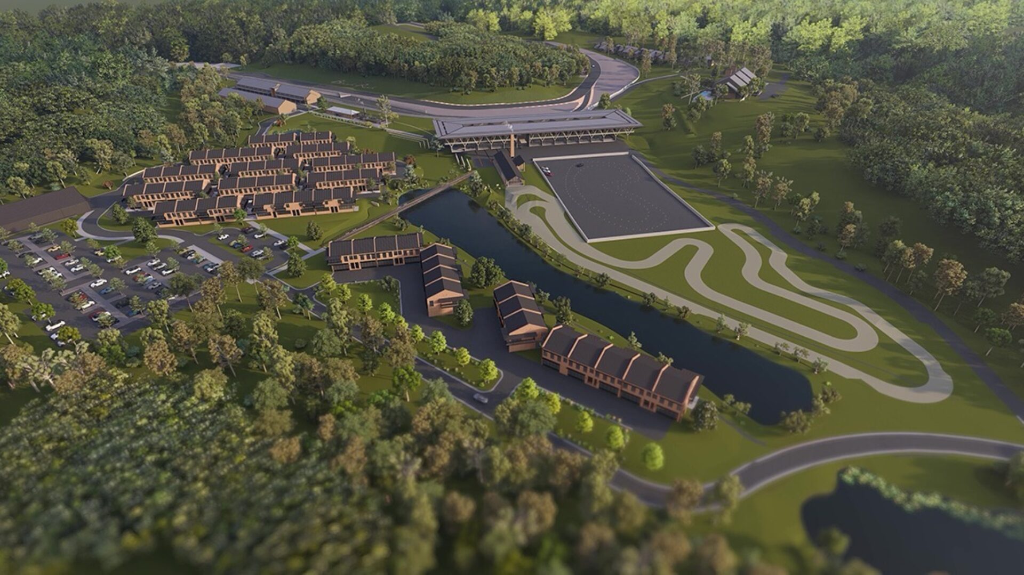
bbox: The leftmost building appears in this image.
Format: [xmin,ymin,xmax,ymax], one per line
[0,189,92,237]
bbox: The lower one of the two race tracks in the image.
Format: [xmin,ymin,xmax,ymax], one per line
[534,201,962,406]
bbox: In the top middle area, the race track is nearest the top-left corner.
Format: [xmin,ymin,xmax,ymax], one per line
[217,55,601,109]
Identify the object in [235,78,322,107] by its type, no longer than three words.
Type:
building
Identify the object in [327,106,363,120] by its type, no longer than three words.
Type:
building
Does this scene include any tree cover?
Yes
